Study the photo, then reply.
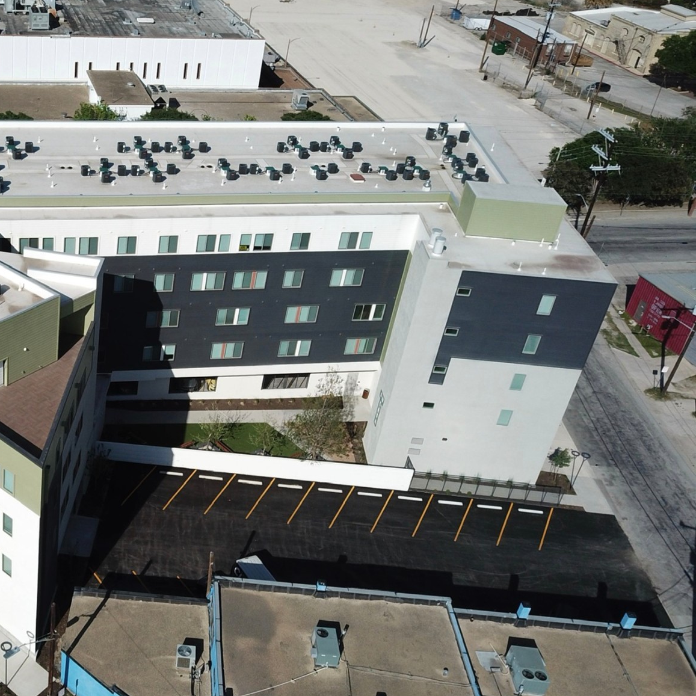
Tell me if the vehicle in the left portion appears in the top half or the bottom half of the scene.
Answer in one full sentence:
The bottom half of the photo is where the vehicle in the left portion is.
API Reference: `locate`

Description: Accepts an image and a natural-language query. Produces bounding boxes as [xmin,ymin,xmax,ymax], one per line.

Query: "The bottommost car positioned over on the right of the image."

[589,80,610,92]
